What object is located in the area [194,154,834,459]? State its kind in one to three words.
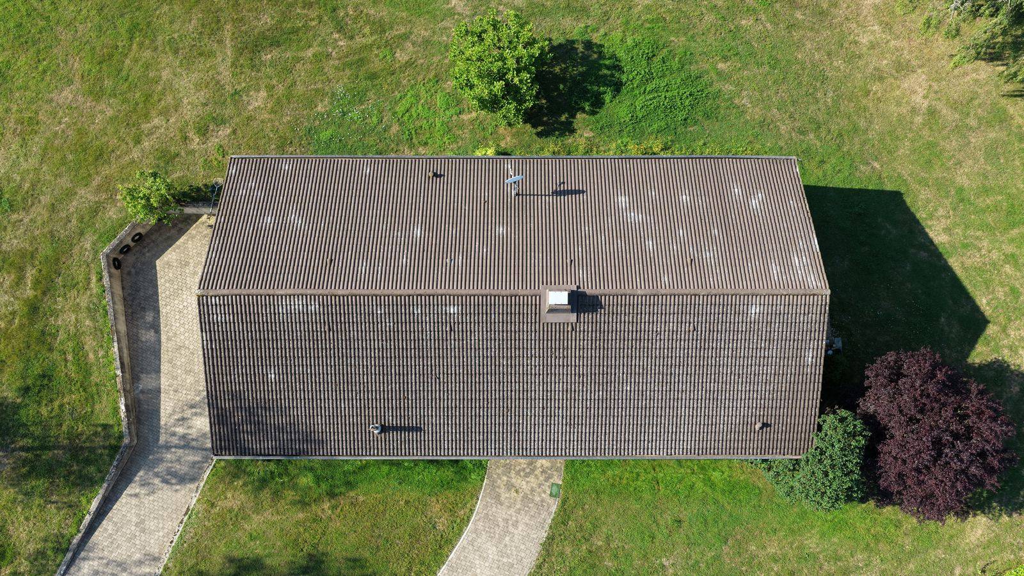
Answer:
house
